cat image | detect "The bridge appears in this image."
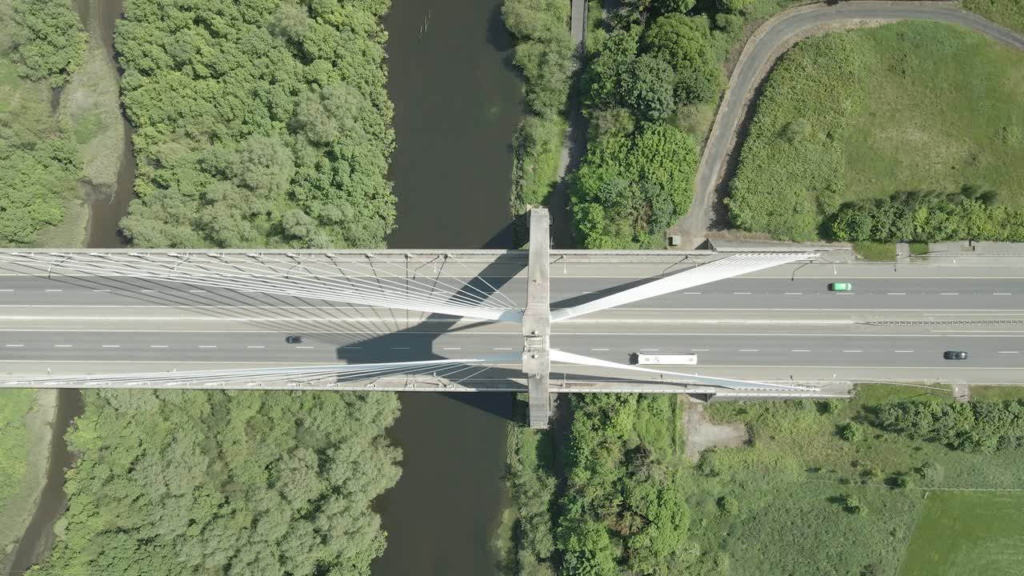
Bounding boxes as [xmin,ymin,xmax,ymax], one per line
[0,206,861,430]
